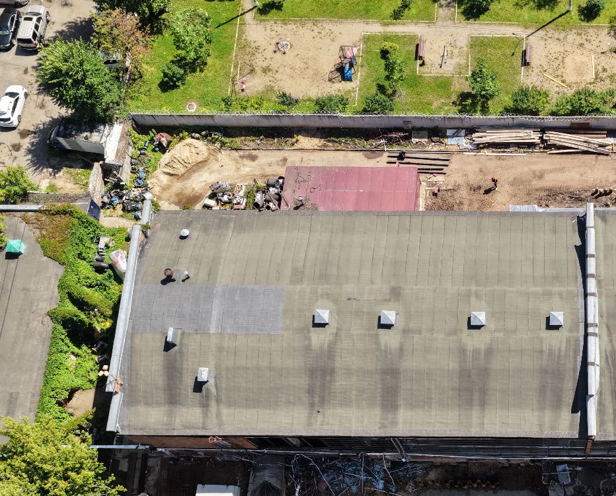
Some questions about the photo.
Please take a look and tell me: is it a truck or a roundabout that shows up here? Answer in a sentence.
Visible in the photo is a truck.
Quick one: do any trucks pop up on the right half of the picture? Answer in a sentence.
No, no truck appears on the right half of the picture.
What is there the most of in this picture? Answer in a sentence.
Most of the picture is covered by buildings.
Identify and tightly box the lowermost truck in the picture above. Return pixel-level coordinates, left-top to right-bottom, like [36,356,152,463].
[42,117,105,155]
